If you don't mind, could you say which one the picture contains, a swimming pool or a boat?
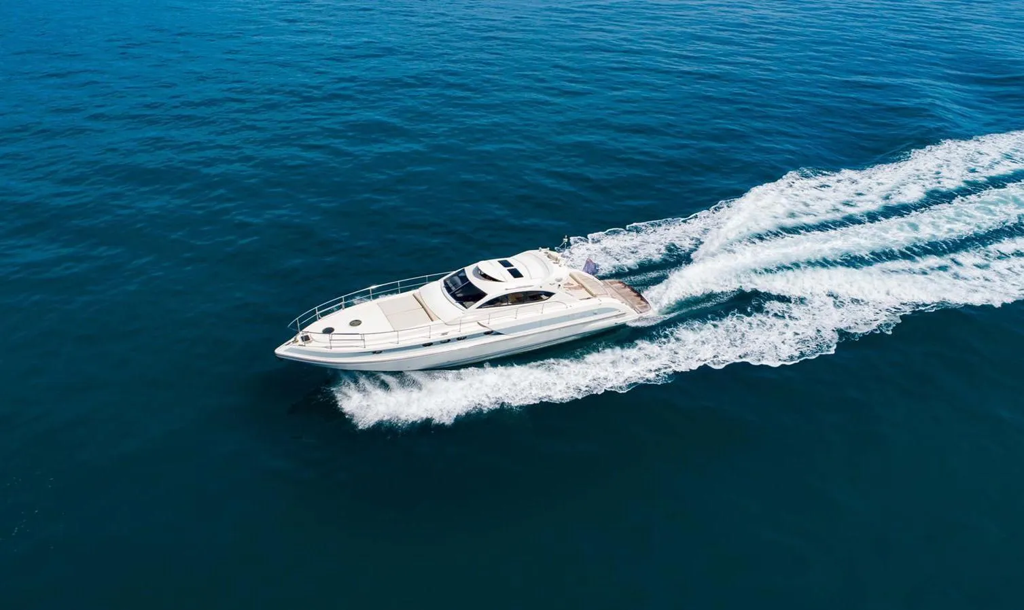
boat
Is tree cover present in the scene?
No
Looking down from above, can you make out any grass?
No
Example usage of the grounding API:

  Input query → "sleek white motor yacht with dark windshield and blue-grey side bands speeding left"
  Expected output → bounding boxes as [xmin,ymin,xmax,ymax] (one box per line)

[272,233,650,372]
